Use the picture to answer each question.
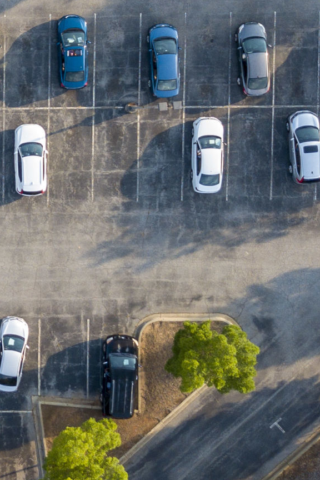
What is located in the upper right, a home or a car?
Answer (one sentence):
It is a car that can be seen in the upper right.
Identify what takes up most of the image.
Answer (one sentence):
Most of the picture is covered by paved ground.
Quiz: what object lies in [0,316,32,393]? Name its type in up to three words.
car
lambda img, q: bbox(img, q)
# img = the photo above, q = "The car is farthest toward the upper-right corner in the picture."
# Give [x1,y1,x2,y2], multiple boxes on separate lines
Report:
[235,22,275,96]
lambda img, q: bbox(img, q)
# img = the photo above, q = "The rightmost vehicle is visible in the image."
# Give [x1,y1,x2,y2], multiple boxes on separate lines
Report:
[287,110,320,184]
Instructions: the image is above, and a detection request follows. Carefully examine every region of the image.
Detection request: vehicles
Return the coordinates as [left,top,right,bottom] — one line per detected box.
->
[146,23,184,98]
[54,14,93,89]
[287,110,320,184]
[0,316,32,393]
[13,124,51,196]
[102,333,142,420]
[235,22,275,96]
[189,116,230,194]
